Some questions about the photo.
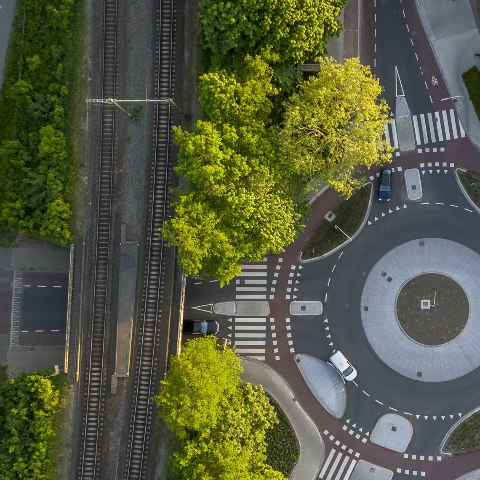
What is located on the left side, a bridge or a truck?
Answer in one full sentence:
There is a bridge on the left side.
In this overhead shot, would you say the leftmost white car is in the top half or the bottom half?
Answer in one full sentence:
You can find the leftmost white car in the bottom half.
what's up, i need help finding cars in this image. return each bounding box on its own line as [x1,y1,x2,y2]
[184,320,218,336]
[376,167,393,201]
[328,349,357,382]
